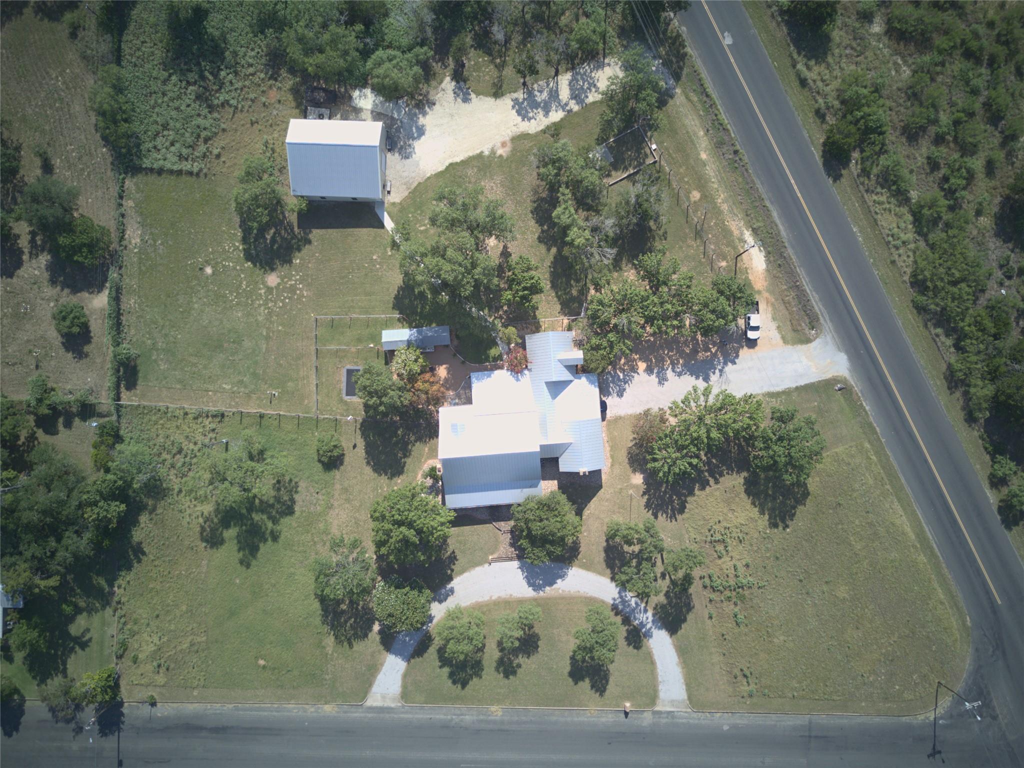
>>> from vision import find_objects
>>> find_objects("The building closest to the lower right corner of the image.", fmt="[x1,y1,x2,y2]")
[439,332,605,509]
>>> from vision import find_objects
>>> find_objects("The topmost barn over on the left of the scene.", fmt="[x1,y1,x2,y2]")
[286,119,386,203]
